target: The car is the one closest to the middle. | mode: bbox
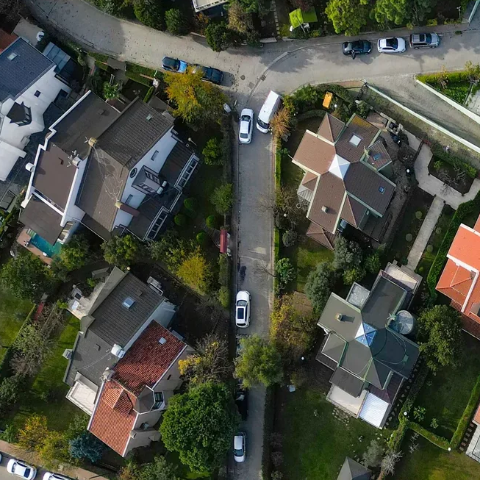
[233,293,251,326]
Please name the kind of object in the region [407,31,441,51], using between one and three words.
car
